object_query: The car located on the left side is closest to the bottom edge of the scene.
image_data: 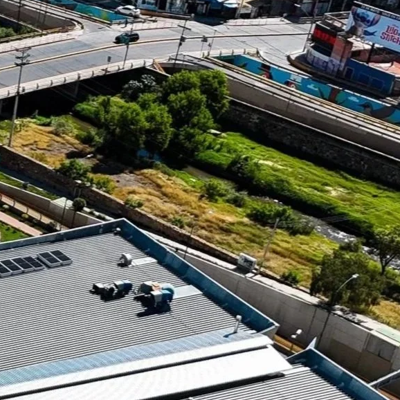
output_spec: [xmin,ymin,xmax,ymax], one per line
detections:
[112,28,141,47]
